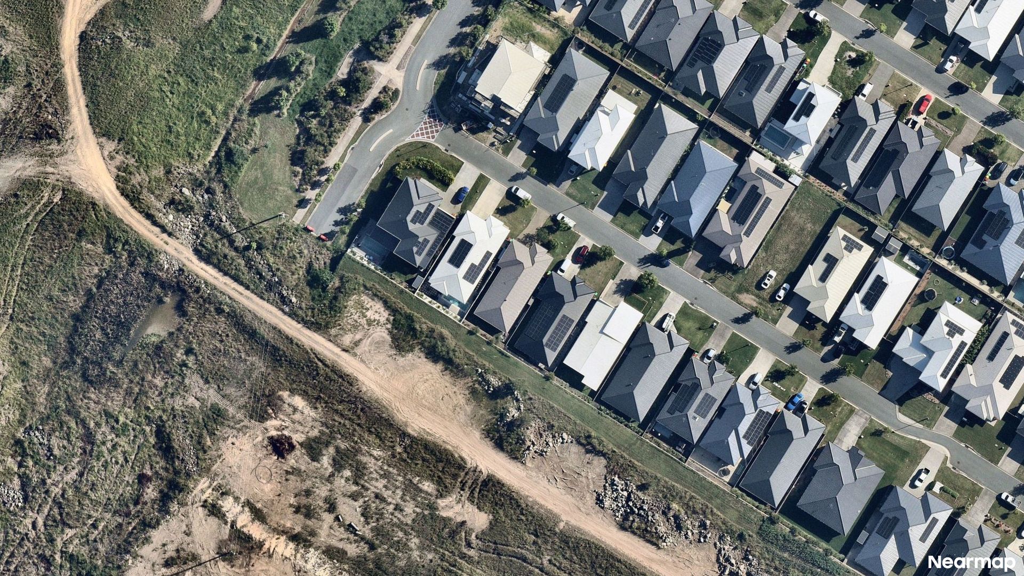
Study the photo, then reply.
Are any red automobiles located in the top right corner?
Yes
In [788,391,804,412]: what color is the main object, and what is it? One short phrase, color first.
blue vehicle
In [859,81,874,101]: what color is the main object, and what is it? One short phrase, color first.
white vehicle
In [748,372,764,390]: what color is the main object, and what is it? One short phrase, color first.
white car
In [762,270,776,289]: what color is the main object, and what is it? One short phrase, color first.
white car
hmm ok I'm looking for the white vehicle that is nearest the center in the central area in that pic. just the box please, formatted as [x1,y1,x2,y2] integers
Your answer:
[557,257,572,277]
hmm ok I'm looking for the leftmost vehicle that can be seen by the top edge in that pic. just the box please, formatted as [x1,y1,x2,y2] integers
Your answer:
[809,8,830,22]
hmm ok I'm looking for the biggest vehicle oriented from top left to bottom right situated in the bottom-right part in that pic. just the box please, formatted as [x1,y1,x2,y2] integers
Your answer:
[1001,491,1022,509]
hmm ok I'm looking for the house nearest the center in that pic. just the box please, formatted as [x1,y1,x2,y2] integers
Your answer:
[473,239,553,334]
